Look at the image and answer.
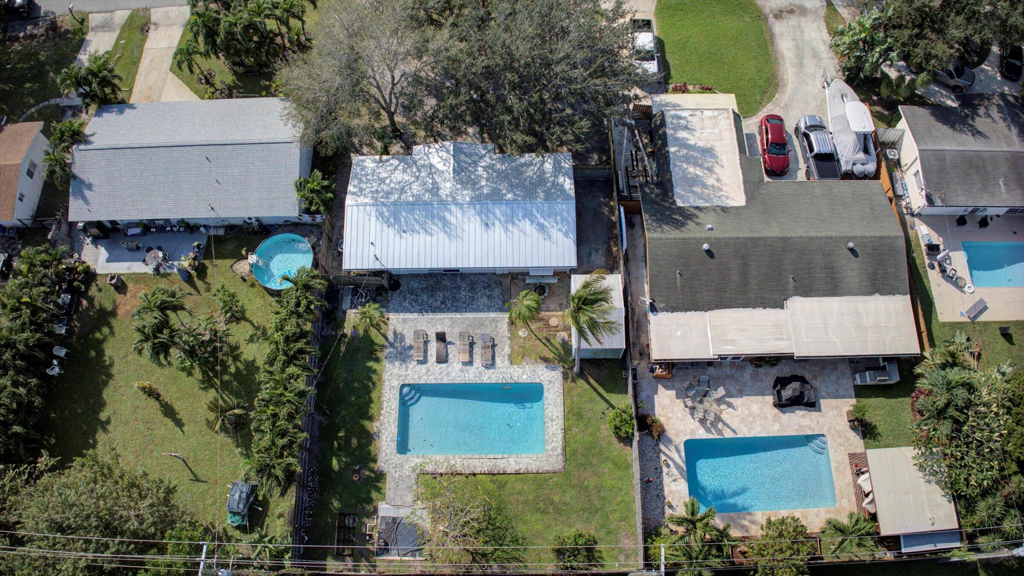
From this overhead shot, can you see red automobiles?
Yes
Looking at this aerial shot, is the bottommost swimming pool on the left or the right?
right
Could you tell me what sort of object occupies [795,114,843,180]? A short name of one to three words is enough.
truck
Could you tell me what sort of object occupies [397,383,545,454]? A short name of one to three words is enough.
swimming pool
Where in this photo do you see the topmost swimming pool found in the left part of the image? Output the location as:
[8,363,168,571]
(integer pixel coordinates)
[250,233,318,297]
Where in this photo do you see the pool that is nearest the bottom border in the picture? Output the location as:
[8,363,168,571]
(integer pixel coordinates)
[685,434,836,513]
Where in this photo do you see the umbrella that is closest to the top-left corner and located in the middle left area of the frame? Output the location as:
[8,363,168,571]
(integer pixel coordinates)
[158,260,189,280]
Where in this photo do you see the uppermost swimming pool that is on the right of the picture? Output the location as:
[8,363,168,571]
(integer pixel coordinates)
[963,242,1024,286]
